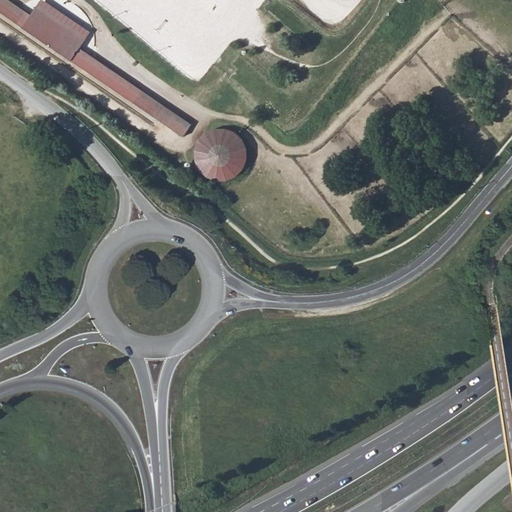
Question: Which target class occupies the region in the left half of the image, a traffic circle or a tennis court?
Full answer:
The one visible in the left half of the image is a traffic circle.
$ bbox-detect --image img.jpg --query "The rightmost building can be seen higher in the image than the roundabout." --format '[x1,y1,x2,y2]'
[194,129,246,184]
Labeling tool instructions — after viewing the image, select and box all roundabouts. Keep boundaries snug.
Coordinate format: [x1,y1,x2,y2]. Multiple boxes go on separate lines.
[82,216,228,359]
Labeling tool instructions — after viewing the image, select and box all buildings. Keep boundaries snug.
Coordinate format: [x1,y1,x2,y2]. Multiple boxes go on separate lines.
[72,50,191,136]
[22,0,90,60]
[194,129,246,184]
